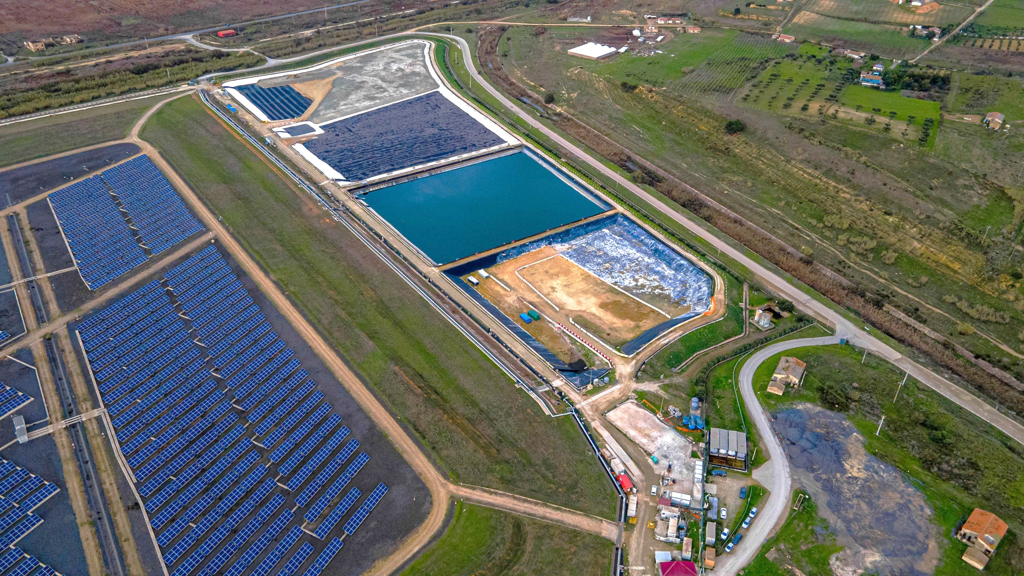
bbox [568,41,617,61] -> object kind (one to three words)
greenhouse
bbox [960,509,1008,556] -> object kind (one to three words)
house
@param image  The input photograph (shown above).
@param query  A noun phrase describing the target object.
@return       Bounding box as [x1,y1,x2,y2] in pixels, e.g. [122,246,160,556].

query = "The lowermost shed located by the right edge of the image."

[960,547,990,574]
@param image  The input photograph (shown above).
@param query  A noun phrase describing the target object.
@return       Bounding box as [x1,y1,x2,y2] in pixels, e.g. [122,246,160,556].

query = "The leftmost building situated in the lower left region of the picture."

[12,413,29,440]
